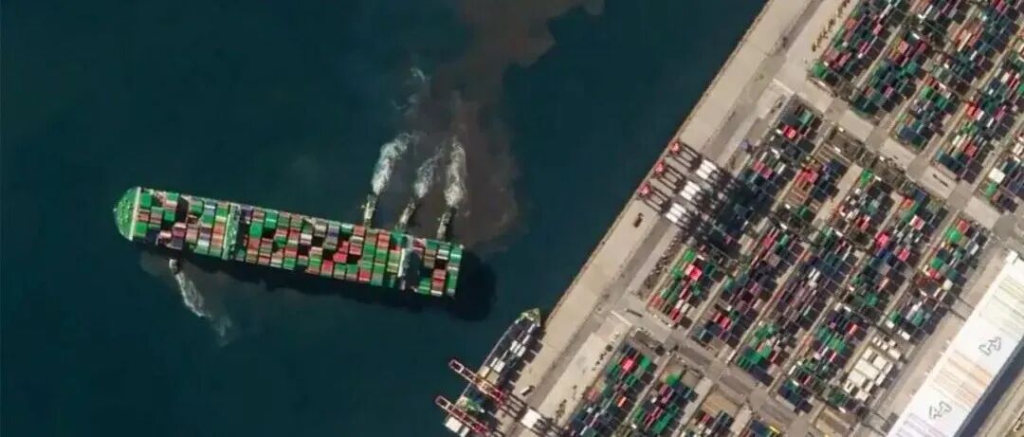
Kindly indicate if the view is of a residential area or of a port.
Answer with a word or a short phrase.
port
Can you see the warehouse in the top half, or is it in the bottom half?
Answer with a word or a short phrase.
bottom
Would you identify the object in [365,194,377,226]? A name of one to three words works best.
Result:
boat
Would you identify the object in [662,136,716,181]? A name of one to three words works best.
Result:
container crane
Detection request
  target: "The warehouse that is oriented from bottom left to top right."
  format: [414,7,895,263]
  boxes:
[886,246,1024,437]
